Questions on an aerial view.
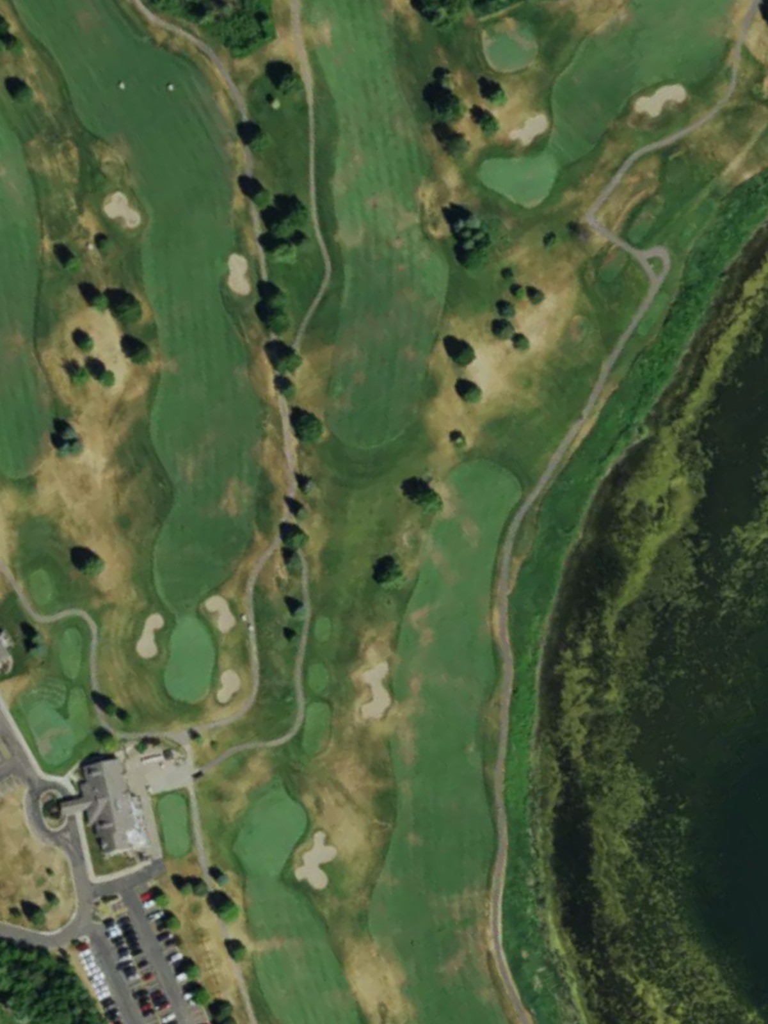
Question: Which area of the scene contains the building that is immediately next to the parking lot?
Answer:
bottom left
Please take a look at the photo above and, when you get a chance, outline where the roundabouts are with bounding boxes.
[39,789,67,831]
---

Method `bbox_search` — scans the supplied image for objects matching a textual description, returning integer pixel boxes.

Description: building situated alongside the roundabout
[57,760,134,854]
